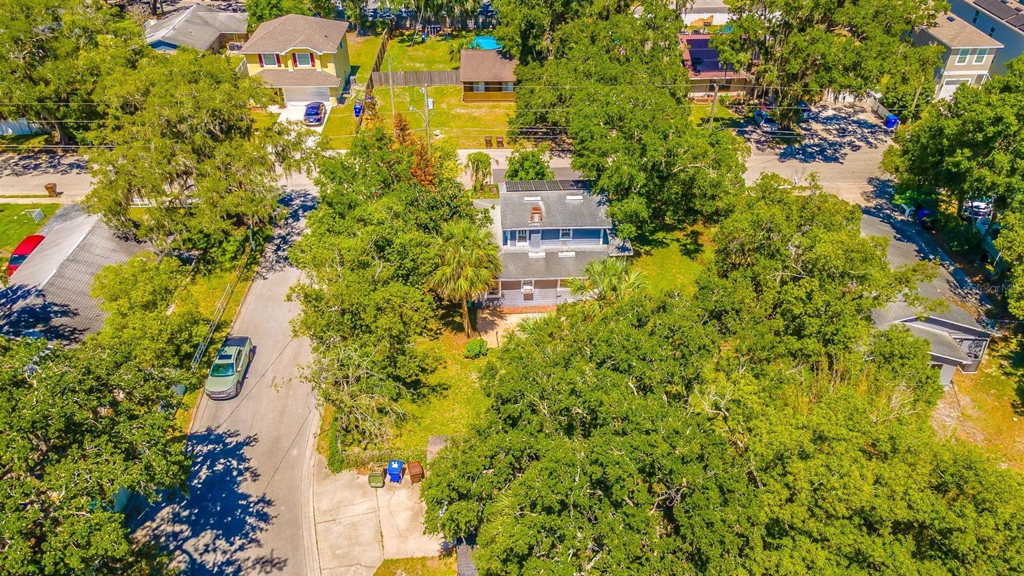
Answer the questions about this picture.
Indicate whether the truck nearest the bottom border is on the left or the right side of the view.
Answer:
left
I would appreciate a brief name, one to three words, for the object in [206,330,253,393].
truck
